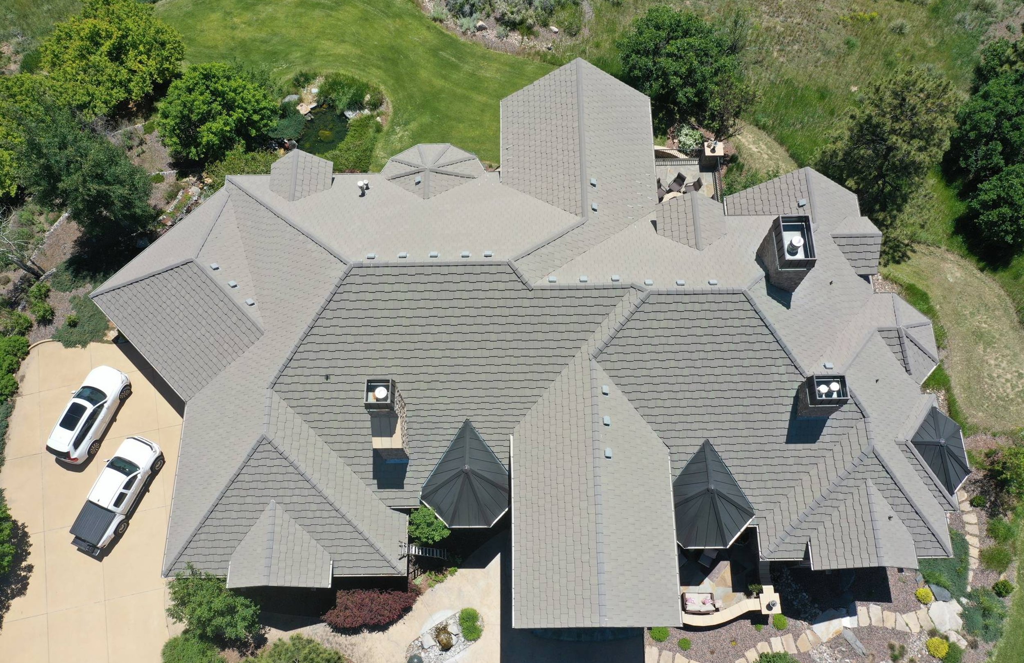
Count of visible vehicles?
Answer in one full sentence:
In total, 2 vehicles can be seen.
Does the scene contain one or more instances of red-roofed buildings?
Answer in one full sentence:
No, the picture doesn't show any red-roofed building.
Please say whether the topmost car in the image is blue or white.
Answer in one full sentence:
In this view, the topmost car is white.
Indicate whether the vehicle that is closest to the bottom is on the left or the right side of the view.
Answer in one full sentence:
It is on the left.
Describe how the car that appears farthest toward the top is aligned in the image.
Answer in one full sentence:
The car that appears farthest toward the top runs on a diagonal in the image.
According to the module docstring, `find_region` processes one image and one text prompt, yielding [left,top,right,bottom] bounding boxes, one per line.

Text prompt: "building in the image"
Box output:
[87,56,974,628]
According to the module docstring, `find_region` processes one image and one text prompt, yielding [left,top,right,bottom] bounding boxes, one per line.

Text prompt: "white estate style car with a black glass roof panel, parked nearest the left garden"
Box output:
[43,366,131,466]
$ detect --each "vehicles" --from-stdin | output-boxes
[69,433,166,555]
[43,366,131,466]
